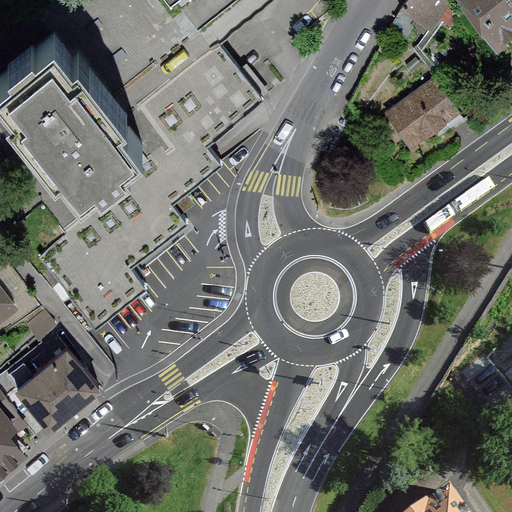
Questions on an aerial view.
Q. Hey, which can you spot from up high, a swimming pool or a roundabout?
roundabout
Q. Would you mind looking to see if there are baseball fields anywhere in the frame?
No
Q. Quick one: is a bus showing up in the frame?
Yes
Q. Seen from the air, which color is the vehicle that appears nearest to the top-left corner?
yellow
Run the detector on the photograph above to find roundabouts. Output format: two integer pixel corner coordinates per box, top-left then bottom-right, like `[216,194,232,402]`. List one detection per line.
[246,228,384,366]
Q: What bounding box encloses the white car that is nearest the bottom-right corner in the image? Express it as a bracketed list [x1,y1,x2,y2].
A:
[326,329,349,346]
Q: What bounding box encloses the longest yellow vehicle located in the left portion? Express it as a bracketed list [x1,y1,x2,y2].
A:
[162,50,188,72]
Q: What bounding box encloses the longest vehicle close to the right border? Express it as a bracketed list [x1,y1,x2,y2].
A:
[421,175,496,232]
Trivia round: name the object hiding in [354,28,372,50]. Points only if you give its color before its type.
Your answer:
white car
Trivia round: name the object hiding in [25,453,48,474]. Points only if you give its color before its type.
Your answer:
white vehicle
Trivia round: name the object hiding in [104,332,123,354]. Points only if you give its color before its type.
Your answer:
white car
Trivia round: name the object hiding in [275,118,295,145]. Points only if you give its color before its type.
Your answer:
white vehicle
